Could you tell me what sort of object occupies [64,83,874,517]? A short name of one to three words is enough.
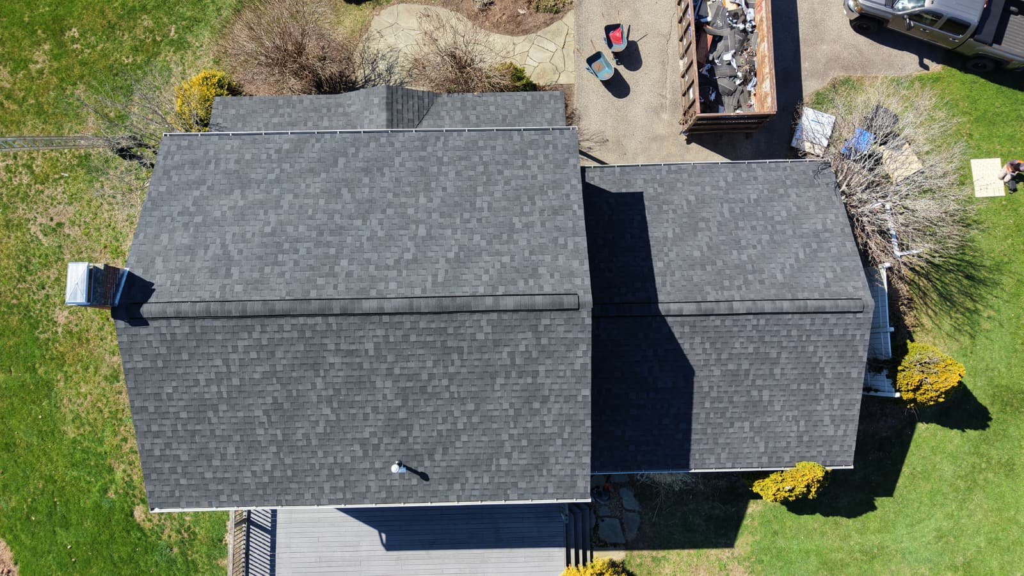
house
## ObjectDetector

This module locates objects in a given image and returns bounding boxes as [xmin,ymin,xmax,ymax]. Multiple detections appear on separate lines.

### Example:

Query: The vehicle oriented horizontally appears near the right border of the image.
[836,0,1024,77]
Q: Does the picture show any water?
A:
No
